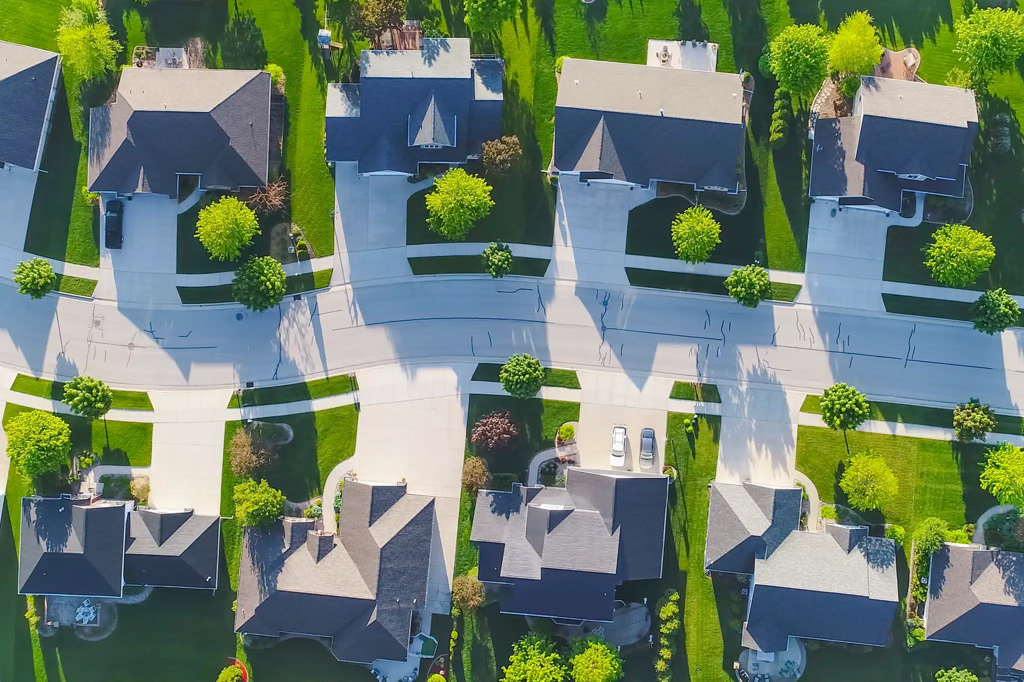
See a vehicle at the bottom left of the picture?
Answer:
No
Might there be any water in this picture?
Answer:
No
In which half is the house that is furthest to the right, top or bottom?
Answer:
bottom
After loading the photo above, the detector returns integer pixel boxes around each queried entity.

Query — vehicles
[638,428,657,469]
[609,425,629,468]
[101,199,123,249]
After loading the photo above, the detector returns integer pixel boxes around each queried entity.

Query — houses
[470,467,669,627]
[805,75,979,214]
[325,37,504,177]
[702,480,899,653]
[87,68,276,201]
[234,479,436,665]
[17,491,225,598]
[554,58,745,196]
[918,541,1024,667]
[0,40,63,171]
